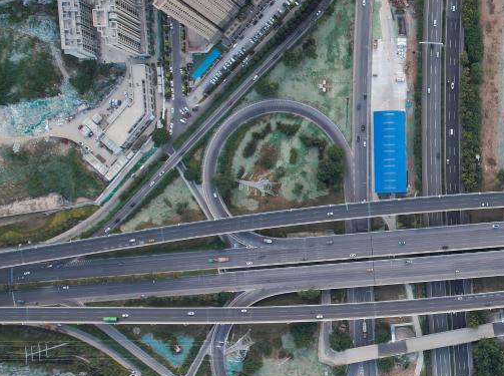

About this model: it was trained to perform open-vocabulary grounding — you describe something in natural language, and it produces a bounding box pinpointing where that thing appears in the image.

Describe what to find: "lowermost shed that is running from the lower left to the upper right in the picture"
[105,142,148,184]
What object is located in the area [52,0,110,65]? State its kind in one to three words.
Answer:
building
